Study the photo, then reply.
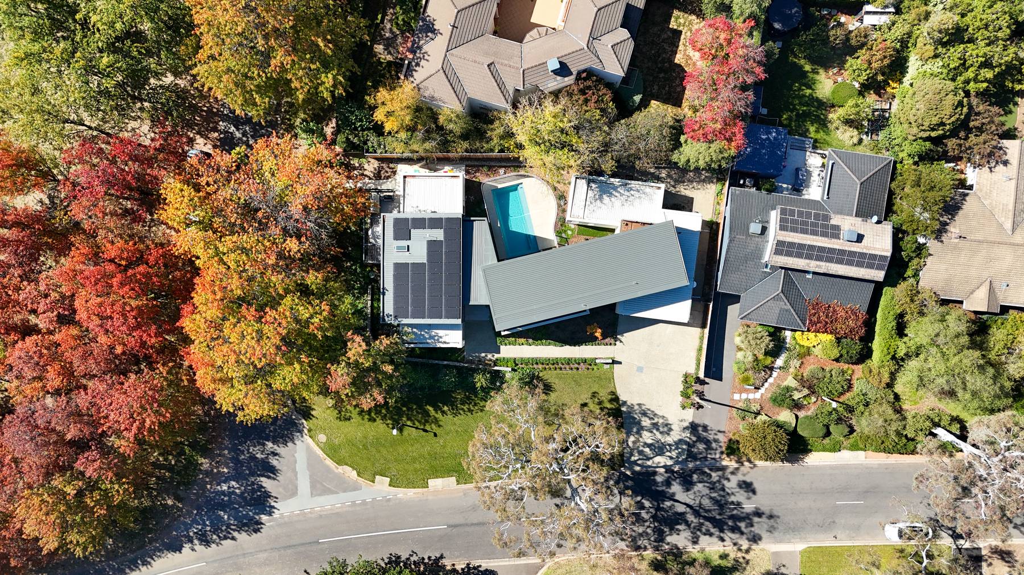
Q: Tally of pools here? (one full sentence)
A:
In total, there is 1 pool in the scene.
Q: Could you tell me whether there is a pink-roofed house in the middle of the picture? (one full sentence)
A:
No, there's no pink-roofed house to be seen in the middle of the picture.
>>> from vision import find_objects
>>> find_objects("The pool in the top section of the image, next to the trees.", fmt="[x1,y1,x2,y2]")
[482,173,556,260]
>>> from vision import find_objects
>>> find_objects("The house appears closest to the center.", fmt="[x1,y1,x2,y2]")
[381,171,702,347]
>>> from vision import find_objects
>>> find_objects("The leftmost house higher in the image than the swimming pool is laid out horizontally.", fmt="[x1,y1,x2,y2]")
[400,0,646,115]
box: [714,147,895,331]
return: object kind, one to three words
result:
house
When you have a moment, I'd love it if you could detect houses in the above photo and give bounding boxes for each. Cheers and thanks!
[400,0,646,115]
[918,140,1024,313]
[381,171,702,347]
[714,147,895,331]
